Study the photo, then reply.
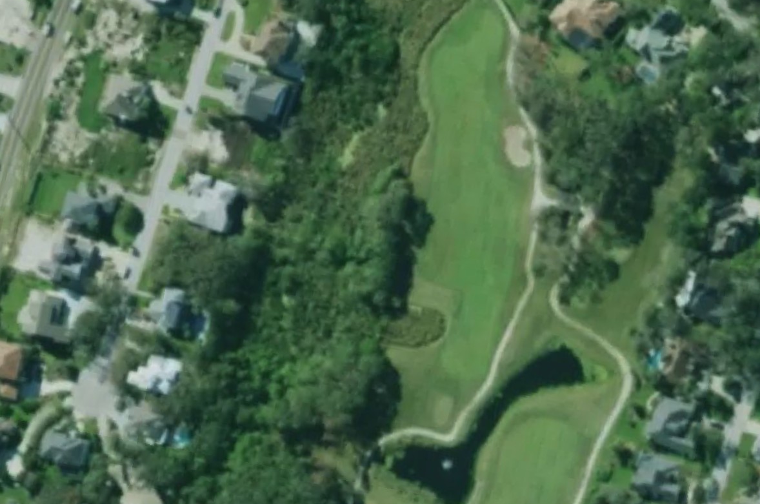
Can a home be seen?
Yes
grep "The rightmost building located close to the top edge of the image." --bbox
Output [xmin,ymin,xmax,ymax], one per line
[625,8,689,51]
